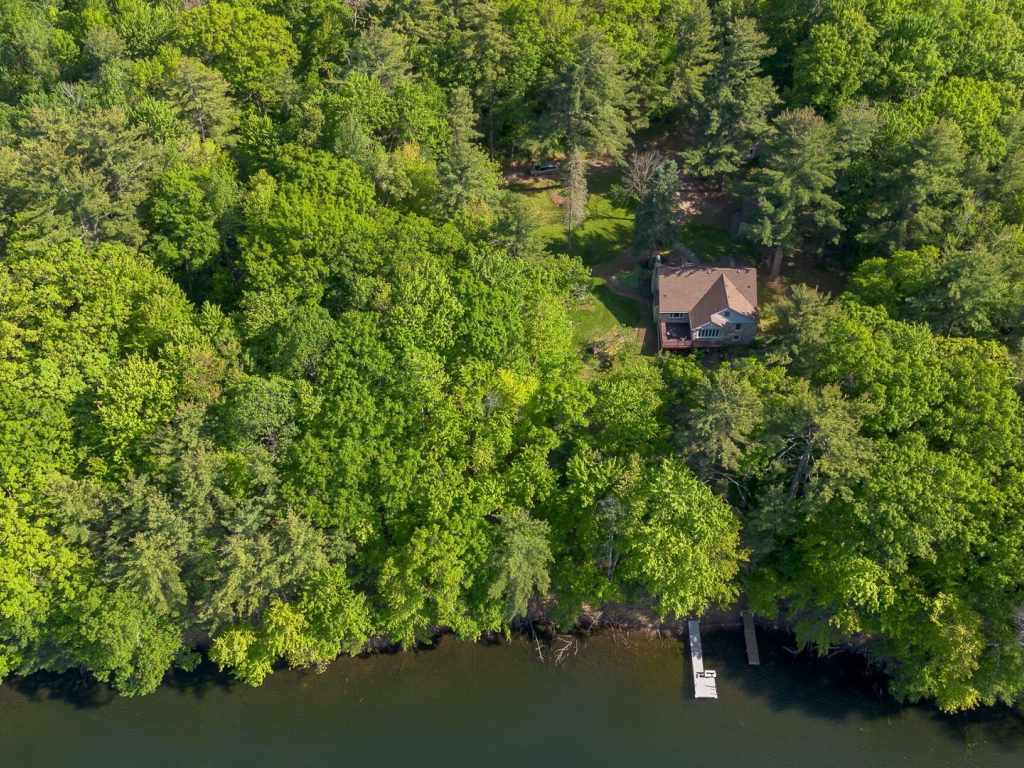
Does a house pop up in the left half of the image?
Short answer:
No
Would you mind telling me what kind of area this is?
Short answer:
forest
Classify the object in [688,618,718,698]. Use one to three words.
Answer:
pier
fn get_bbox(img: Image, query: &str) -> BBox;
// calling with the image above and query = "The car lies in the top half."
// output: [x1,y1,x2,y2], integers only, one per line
[525,165,558,180]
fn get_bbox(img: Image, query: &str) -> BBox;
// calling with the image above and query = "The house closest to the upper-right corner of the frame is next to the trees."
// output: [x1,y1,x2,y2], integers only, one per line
[650,262,758,361]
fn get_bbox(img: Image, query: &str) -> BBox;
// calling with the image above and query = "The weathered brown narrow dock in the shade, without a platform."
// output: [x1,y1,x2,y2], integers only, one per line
[743,614,759,665]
